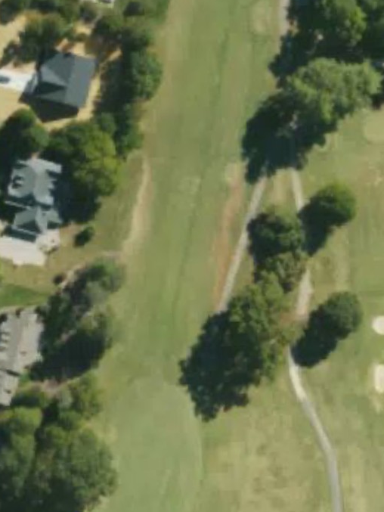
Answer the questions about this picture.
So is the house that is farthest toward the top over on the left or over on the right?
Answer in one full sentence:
The house that is farthest toward the top is on the left side of the image.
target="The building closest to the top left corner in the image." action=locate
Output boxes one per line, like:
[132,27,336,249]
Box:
[27,48,89,118]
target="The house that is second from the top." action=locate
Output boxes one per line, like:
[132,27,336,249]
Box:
[0,156,63,236]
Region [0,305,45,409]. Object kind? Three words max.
house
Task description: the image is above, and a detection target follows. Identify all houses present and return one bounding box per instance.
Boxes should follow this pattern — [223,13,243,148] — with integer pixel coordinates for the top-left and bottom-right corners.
[0,156,63,236]
[27,48,89,118]
[0,305,45,409]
